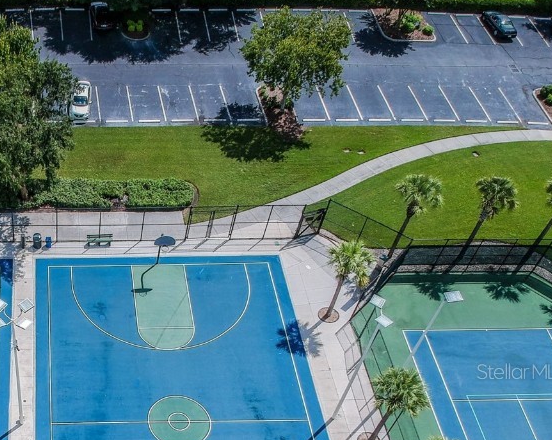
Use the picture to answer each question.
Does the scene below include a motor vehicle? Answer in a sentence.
Yes, there is a motor vehicle in the image.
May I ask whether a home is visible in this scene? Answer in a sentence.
No, there appears to be no home in this shot.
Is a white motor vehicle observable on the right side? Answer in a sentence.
No, on the right side there is no white motor vehicle.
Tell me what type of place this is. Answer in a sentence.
This looks like a sports ground.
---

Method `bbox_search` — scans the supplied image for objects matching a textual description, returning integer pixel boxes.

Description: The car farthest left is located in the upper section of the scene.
[68,80,94,118]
